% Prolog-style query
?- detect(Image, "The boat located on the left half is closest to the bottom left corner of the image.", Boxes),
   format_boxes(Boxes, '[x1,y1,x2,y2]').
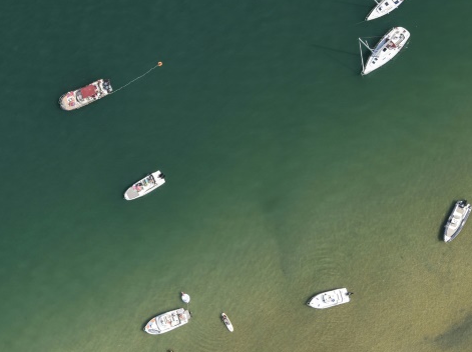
[142,308,193,333]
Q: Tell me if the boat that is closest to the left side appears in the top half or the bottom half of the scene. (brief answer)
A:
top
